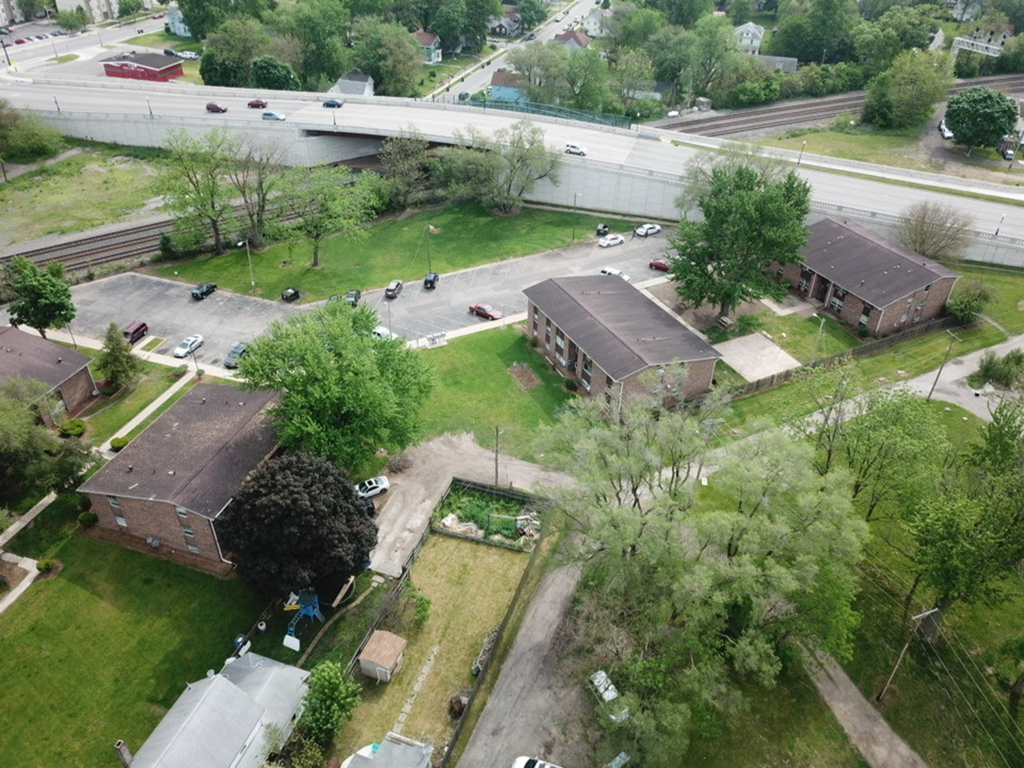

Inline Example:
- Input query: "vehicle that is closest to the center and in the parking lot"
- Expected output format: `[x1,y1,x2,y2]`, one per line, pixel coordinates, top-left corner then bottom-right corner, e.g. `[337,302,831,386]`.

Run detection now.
[469,301,502,318]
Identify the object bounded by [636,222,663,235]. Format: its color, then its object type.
white vehicle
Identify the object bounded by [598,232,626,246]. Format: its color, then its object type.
white car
